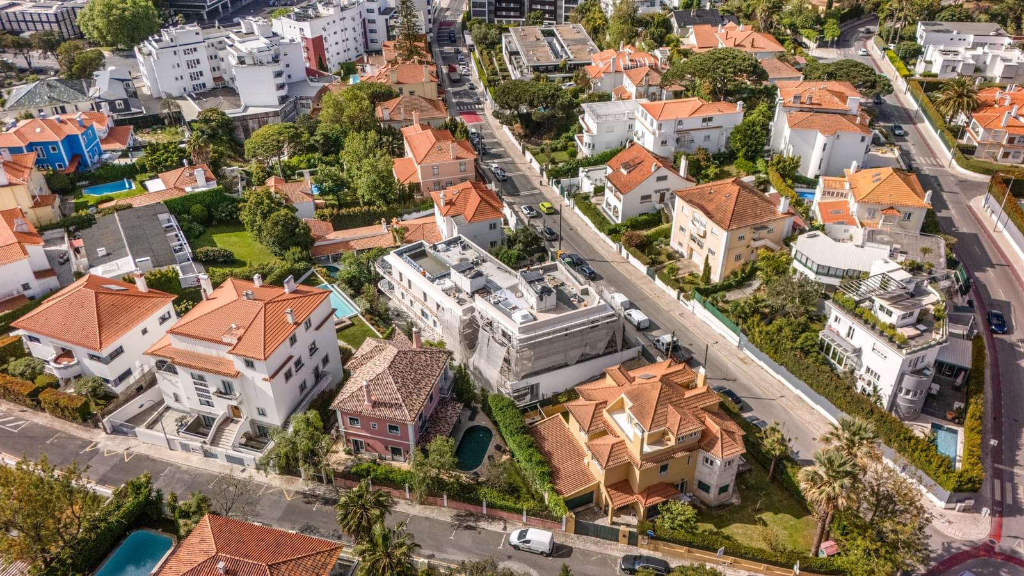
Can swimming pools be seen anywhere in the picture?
Yes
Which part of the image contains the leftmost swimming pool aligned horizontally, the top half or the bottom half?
top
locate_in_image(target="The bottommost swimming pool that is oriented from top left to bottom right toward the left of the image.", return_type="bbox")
[313,281,364,322]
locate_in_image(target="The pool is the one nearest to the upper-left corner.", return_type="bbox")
[81,177,137,197]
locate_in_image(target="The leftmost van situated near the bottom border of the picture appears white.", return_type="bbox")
[509,523,556,552]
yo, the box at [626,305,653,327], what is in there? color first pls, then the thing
white vehicle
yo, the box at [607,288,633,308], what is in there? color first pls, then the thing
white vehicle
